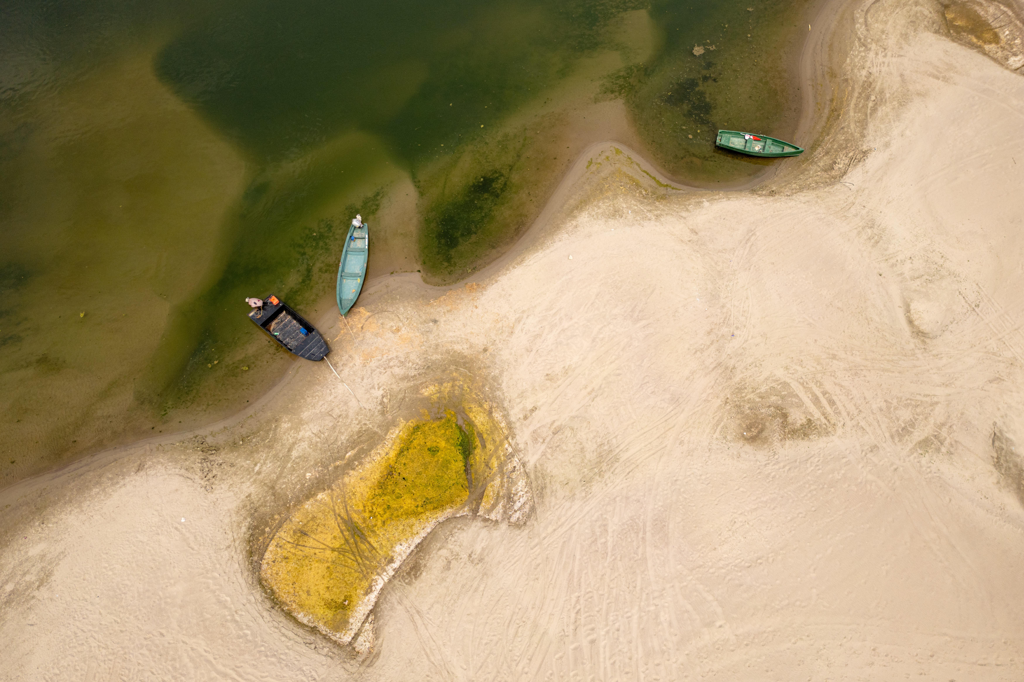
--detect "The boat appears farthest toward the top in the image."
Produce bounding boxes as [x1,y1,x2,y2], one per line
[713,129,804,155]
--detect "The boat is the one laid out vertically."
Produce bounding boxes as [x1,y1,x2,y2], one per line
[336,223,369,317]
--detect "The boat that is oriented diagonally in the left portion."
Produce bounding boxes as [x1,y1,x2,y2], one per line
[247,294,332,361]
